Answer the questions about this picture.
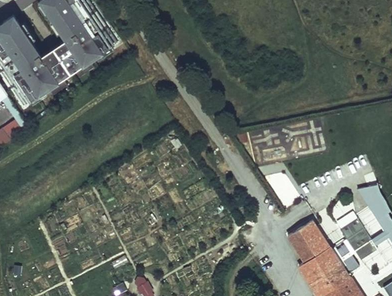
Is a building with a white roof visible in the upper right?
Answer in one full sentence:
No, no building with a white roof can be made out in the upper right.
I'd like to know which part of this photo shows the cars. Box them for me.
[354,159,361,170]
[313,178,321,189]
[358,156,366,167]
[259,256,270,264]
[320,176,328,186]
[348,164,356,174]
[302,184,310,195]
[324,172,332,184]
[262,262,272,270]
[336,168,343,179]
[263,194,270,206]
[267,202,274,213]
